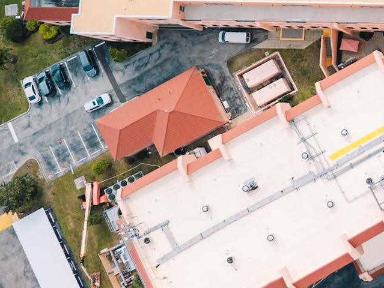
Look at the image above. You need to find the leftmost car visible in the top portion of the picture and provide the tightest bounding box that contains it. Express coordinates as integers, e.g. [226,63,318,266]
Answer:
[23,74,45,106]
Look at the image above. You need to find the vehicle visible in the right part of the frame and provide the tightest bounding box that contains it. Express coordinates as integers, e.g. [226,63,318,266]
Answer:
[218,30,254,45]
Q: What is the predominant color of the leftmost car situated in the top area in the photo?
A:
white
